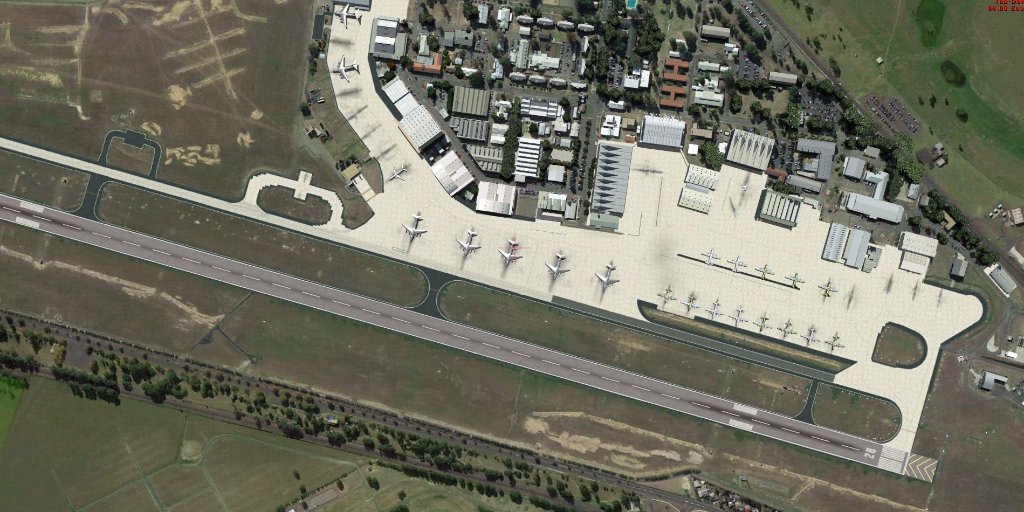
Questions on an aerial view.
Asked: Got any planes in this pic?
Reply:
Yes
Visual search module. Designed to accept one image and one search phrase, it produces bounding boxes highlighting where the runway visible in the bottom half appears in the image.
[0,192,913,476]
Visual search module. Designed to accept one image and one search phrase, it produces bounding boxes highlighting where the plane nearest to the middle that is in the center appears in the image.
[499,241,524,269]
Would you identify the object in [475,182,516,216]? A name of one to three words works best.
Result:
hangar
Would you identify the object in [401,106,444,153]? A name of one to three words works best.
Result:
hangar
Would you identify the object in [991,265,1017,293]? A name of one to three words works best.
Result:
building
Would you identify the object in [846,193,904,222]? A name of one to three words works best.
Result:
building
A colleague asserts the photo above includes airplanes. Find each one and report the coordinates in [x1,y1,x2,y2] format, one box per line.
[706,301,726,316]
[753,314,772,329]
[730,308,749,323]
[728,257,747,272]
[499,241,524,269]
[819,282,839,297]
[776,322,796,337]
[681,296,700,311]
[786,274,805,288]
[825,335,844,350]
[756,265,775,280]
[332,56,360,81]
[801,330,821,344]
[656,289,675,304]
[701,250,721,265]
[596,265,621,293]
[403,214,427,242]
[546,254,571,282]
[458,231,483,259]
[389,166,406,180]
